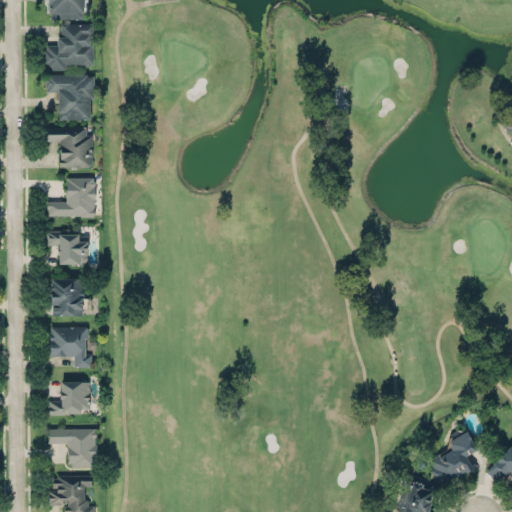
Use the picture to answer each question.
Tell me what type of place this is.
golf course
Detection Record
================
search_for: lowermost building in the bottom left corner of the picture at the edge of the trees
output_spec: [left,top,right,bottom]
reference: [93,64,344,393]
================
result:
[49,474,96,512]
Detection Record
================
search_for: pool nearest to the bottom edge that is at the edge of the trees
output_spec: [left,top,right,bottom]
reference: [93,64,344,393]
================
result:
[466,414,483,436]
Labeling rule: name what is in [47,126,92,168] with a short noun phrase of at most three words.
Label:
house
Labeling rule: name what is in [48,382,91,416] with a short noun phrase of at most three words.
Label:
house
